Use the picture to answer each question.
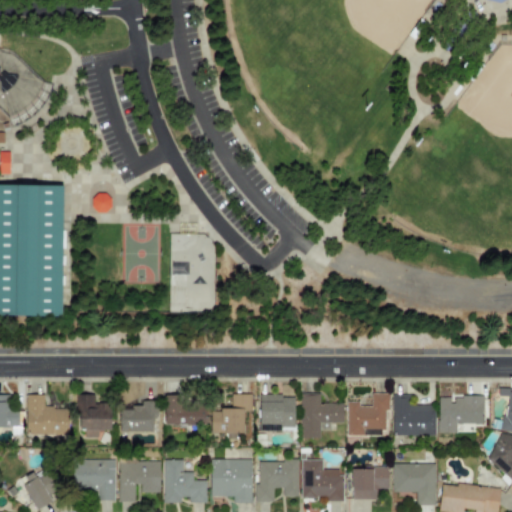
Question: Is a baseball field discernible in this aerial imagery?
Yes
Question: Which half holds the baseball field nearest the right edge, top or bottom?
top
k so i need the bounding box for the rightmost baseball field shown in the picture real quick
[341,44,512,256]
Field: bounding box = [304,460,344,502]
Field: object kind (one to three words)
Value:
house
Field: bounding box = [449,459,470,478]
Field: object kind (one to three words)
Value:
swimming pool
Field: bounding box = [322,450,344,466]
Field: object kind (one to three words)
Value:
swimming pool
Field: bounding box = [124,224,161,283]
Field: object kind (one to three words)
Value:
basketball court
